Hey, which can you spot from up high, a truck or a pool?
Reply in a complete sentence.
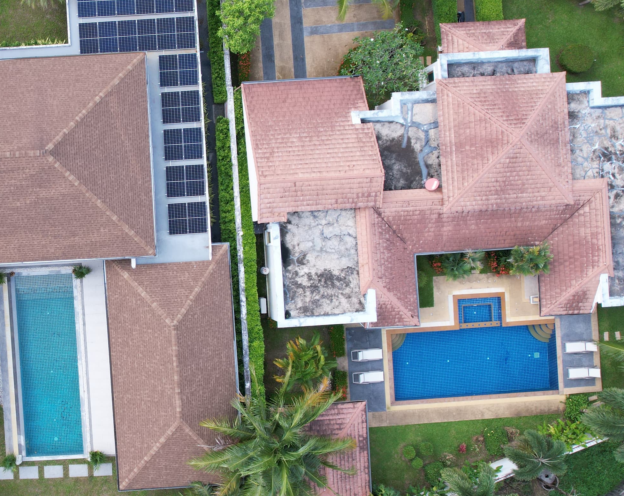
There is a pool in the scene.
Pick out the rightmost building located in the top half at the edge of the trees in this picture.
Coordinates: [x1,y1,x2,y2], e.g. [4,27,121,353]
[238,17,624,329]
